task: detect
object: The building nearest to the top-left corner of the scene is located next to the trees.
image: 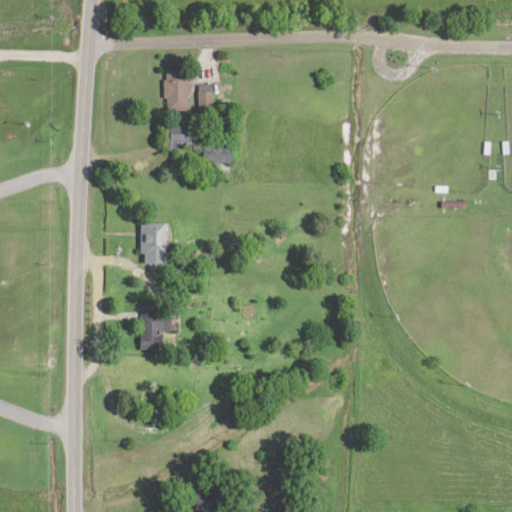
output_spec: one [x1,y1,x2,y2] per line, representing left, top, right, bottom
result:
[164,73,192,111]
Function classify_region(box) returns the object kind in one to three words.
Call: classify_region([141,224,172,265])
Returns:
house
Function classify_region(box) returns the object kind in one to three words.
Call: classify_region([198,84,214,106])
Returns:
building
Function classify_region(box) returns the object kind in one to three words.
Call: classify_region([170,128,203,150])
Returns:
house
